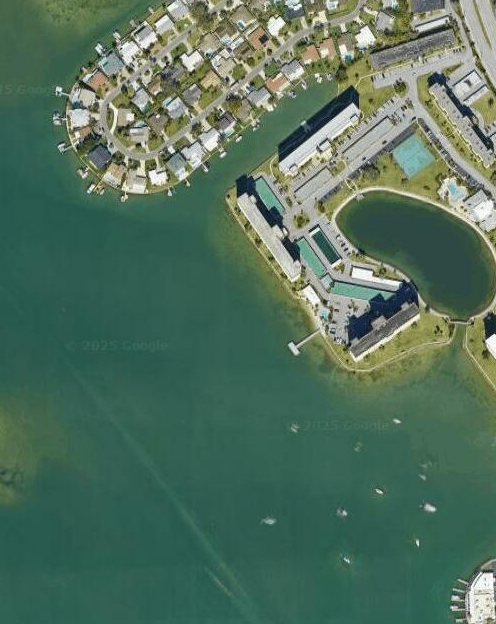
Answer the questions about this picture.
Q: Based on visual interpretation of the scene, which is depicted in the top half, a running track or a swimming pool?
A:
swimming pool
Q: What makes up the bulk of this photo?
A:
water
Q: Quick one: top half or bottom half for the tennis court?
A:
top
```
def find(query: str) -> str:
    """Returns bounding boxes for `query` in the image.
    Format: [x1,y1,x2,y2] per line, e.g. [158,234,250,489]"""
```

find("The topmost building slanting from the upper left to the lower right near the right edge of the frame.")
[429,83,494,171]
